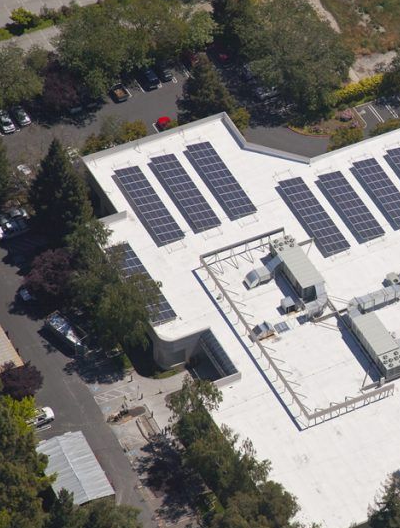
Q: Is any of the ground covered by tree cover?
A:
Yes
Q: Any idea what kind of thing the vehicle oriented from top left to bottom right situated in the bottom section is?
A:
truck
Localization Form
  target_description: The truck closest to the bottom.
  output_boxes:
[14,410,55,433]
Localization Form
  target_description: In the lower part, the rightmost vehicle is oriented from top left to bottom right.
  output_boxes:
[42,302,90,356]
